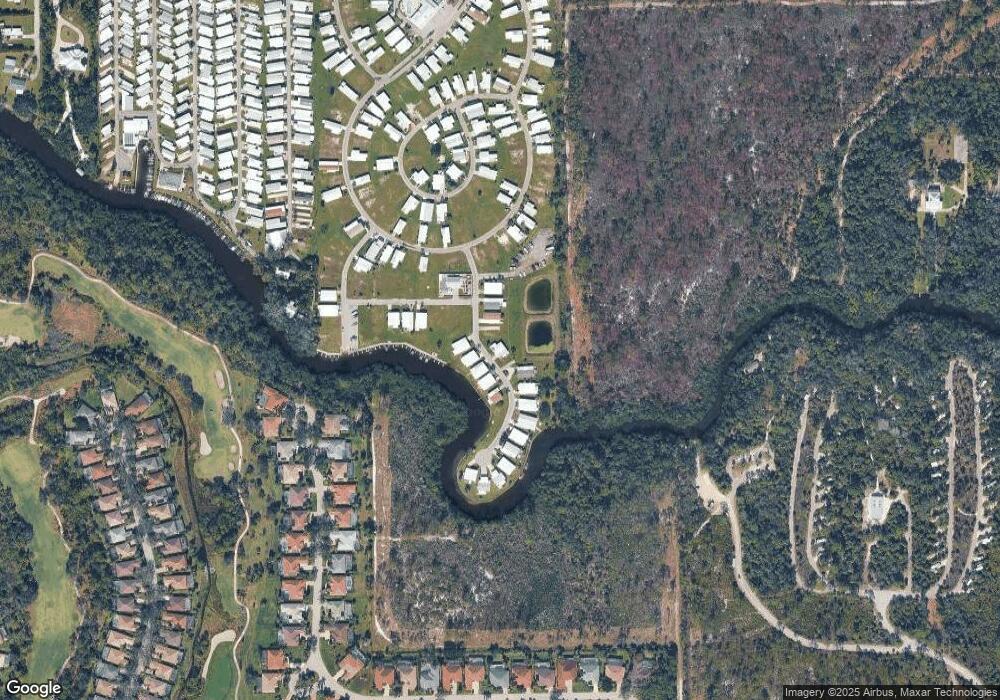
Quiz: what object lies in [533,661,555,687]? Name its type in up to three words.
house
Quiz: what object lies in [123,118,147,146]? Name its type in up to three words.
building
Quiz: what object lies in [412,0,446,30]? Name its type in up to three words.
building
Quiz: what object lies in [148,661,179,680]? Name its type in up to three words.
house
